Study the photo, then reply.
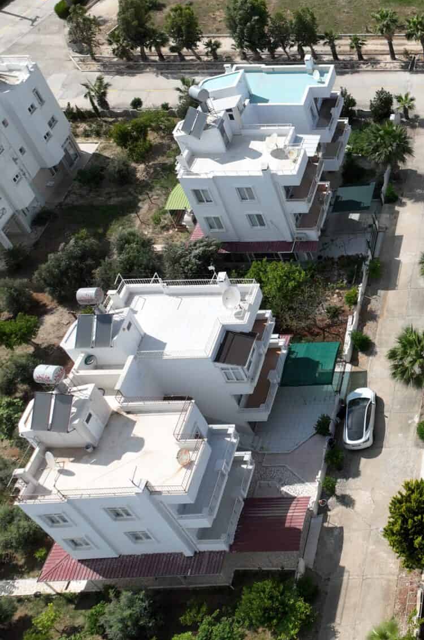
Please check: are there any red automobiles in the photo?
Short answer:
No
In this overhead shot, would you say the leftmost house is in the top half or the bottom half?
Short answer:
top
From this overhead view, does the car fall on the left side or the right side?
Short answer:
right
